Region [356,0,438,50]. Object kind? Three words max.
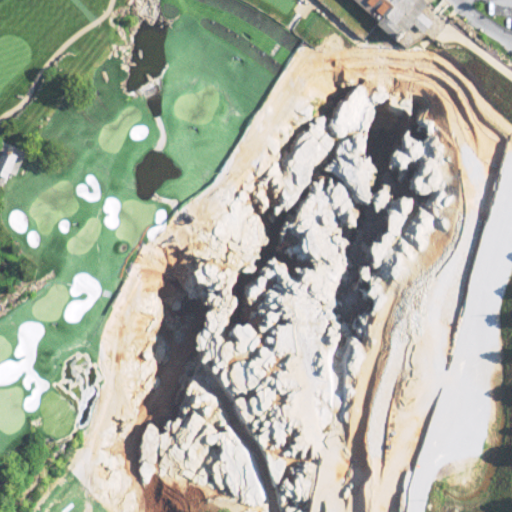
building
